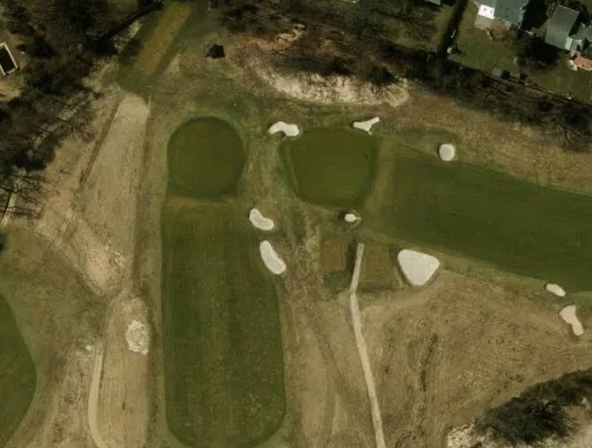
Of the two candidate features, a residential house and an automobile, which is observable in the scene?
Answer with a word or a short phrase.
residential house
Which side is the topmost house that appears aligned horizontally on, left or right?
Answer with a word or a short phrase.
right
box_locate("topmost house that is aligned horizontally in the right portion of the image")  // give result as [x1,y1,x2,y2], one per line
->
[478,0,529,23]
